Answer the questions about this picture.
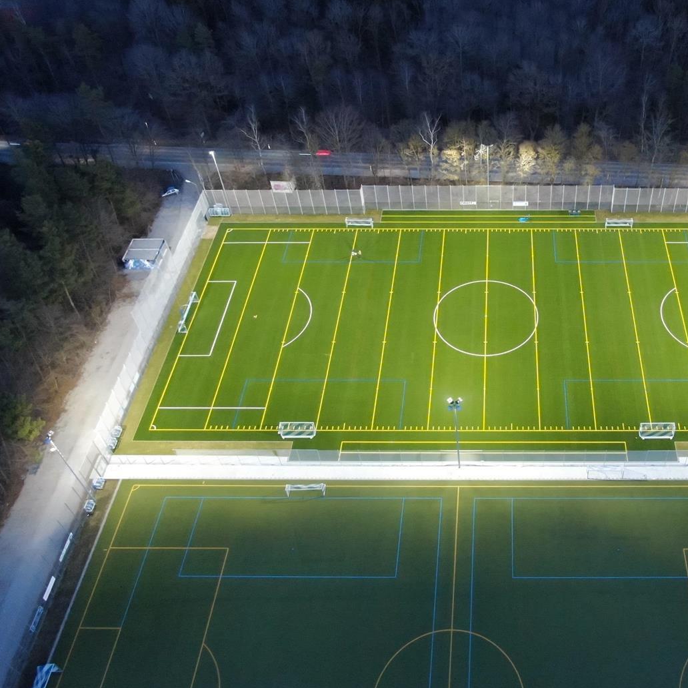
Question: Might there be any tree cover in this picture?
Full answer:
Yes, tree cover can be seen from above here.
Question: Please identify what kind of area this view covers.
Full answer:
The picture captures a sports ground.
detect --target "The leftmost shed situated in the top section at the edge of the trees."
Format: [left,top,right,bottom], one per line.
[119,237,162,268]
